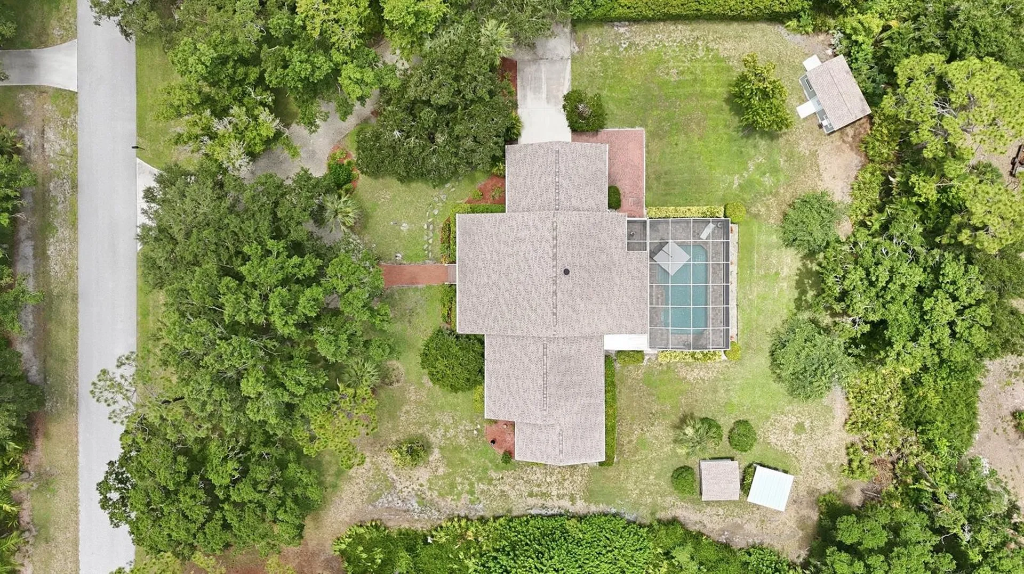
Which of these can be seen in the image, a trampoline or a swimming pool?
swimming pool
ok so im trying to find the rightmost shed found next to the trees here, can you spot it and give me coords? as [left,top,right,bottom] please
[798,53,872,133]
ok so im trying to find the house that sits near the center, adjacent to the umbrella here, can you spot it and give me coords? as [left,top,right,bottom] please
[456,140,650,464]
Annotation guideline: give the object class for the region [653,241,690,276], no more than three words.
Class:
umbrella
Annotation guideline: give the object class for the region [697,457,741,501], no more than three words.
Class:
shed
